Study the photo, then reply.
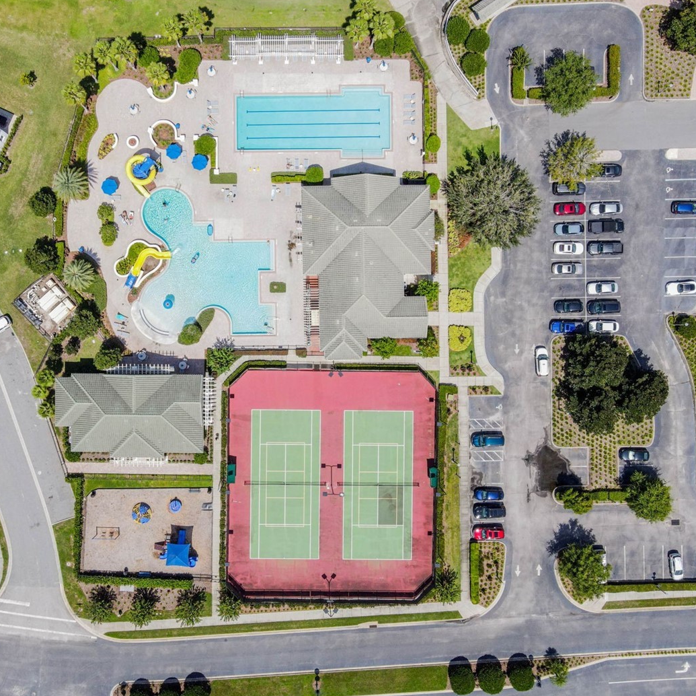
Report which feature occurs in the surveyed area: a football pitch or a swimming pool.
swimming pool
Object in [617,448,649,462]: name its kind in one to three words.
vehicle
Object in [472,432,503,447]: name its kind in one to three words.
car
